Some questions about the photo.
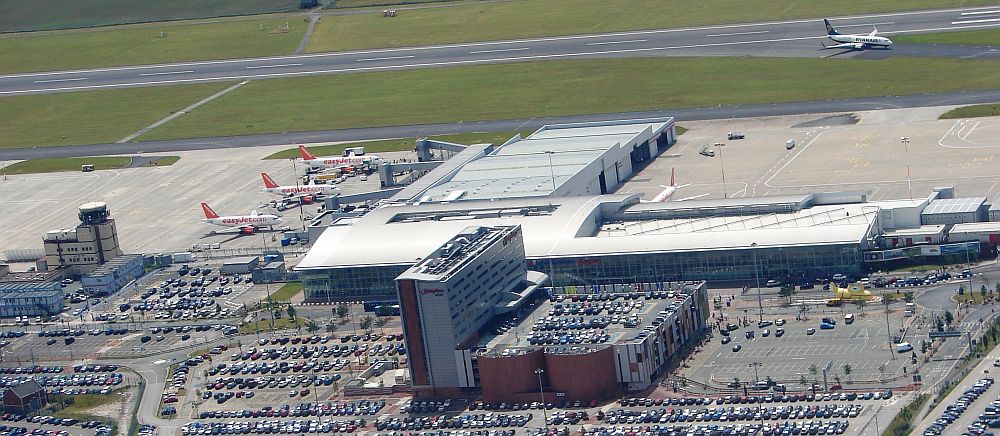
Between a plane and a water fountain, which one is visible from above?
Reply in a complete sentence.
The one in the frame is a plane.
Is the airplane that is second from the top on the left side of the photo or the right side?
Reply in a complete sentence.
The airplane that is second from the top appears in the left half of the scene.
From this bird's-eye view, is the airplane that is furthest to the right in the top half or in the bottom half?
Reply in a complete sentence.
The airplane that is furthest to the right is in the top half of the image.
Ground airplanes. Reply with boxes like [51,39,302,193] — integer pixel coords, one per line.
[198,200,283,234]
[825,21,893,51]
[646,166,703,202]
[260,170,341,202]
[302,143,385,173]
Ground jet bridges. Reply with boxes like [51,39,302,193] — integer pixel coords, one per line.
[412,137,473,166]
[375,162,452,189]
[320,186,412,214]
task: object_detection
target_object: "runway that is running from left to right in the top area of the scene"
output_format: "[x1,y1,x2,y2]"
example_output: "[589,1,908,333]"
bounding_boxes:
[0,6,1000,95]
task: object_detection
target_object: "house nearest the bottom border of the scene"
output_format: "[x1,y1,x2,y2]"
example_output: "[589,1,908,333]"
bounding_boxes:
[0,377,54,414]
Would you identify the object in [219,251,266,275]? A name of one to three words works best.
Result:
shed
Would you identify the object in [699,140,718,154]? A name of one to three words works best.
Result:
vehicle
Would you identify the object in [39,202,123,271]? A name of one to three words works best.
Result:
building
